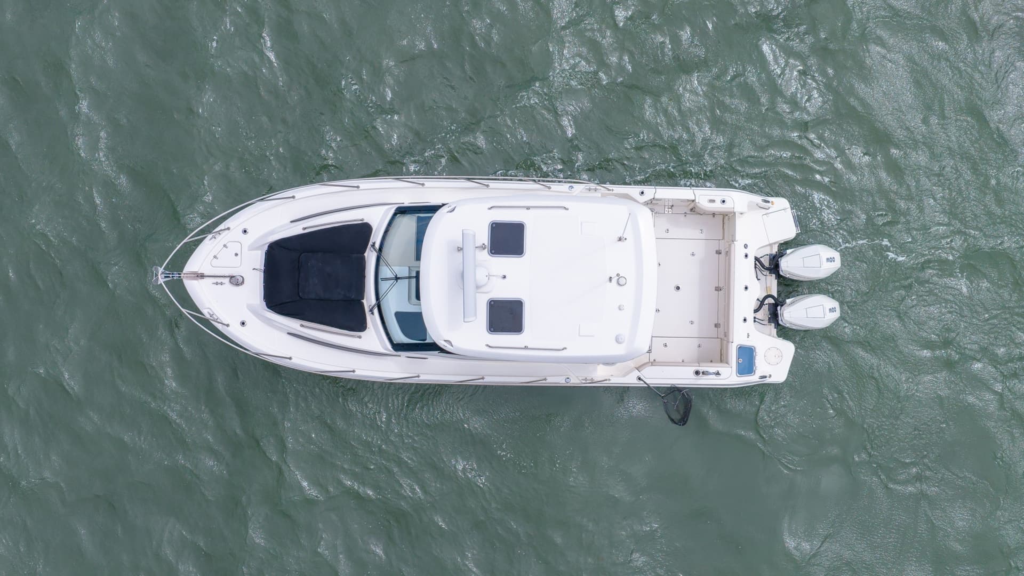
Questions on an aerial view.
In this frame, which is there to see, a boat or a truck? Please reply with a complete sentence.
It is a boat that can be seen here.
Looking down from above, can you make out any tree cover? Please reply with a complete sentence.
No, there's no tree cover in this view.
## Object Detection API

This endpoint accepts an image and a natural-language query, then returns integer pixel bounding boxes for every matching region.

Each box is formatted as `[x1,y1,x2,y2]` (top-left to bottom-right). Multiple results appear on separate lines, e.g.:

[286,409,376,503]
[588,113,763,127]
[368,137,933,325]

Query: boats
[158,176,841,387]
